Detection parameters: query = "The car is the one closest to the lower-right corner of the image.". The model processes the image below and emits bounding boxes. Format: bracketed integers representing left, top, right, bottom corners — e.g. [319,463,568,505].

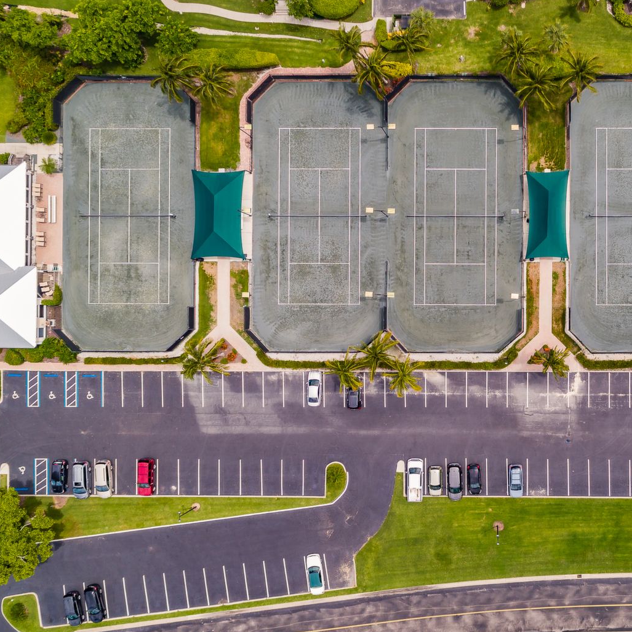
[507,464,524,498]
